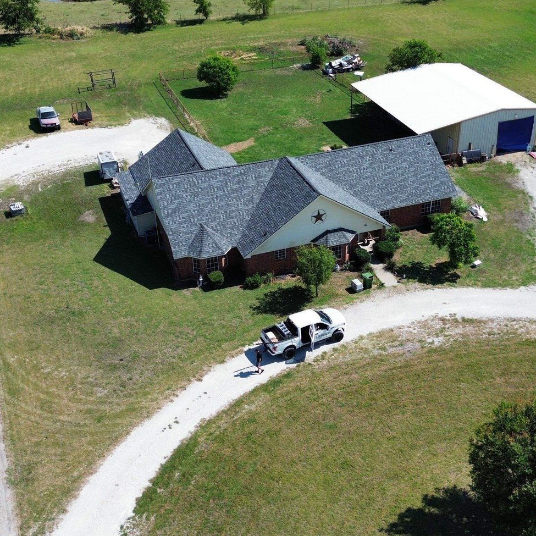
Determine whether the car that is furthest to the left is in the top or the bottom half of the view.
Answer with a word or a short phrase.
top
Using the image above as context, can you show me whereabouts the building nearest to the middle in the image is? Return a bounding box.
[115,128,458,286]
